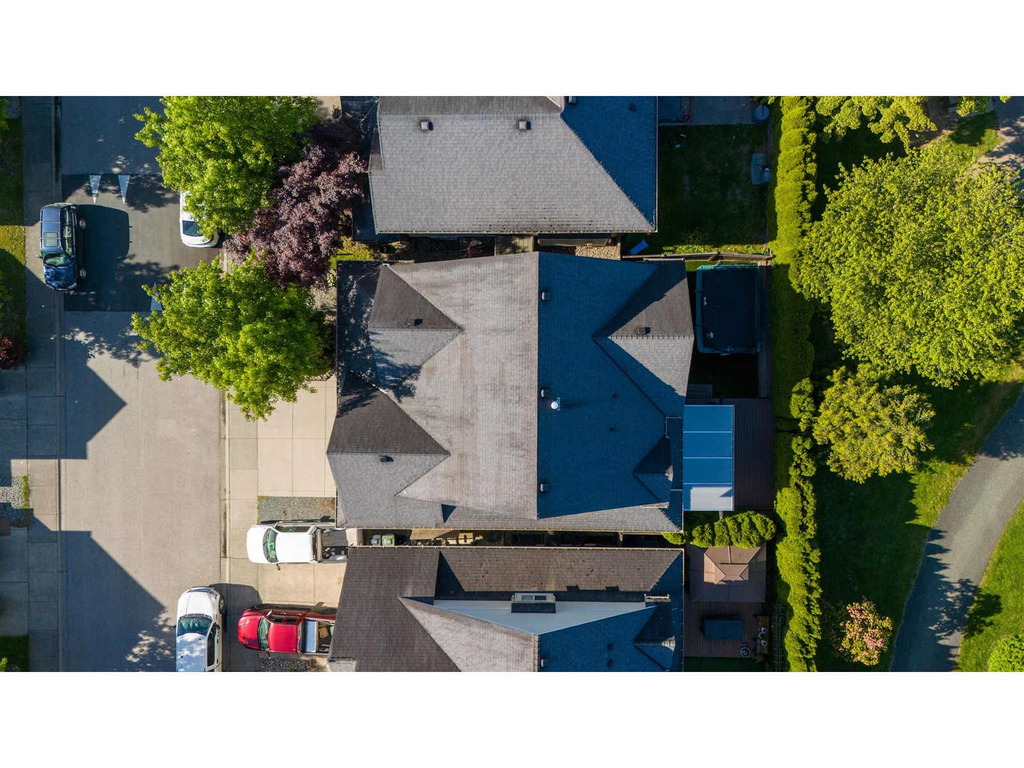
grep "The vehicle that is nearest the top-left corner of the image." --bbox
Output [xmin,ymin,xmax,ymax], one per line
[36,205,88,290]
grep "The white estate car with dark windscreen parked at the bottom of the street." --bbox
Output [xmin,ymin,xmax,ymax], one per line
[176,588,226,683]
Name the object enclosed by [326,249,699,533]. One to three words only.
house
